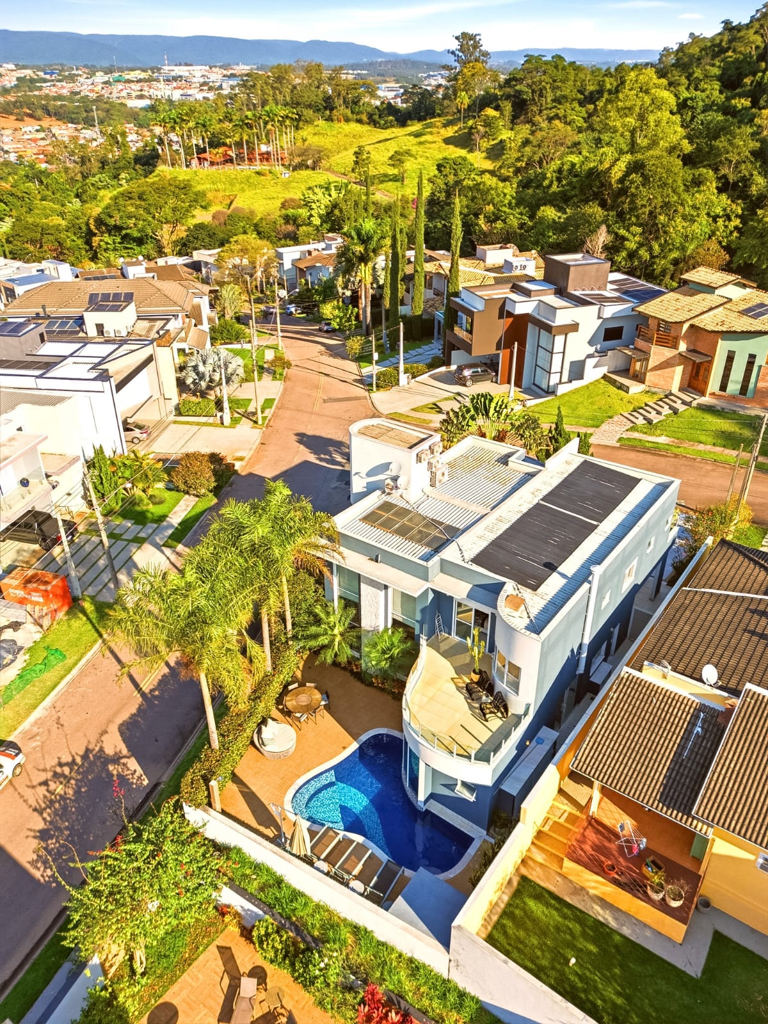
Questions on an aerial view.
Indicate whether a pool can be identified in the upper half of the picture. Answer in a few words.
No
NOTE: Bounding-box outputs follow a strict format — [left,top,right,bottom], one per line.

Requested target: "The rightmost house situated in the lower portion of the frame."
[532,527,768,945]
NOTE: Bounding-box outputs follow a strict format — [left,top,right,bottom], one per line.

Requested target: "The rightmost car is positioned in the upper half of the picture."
[452,367,500,389]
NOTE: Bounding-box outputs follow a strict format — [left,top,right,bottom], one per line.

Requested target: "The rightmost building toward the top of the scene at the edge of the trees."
[619,264,768,410]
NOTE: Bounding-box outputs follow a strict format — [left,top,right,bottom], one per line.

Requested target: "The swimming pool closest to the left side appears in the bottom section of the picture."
[282,720,504,883]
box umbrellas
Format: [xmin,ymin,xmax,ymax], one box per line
[273,807,306,853]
